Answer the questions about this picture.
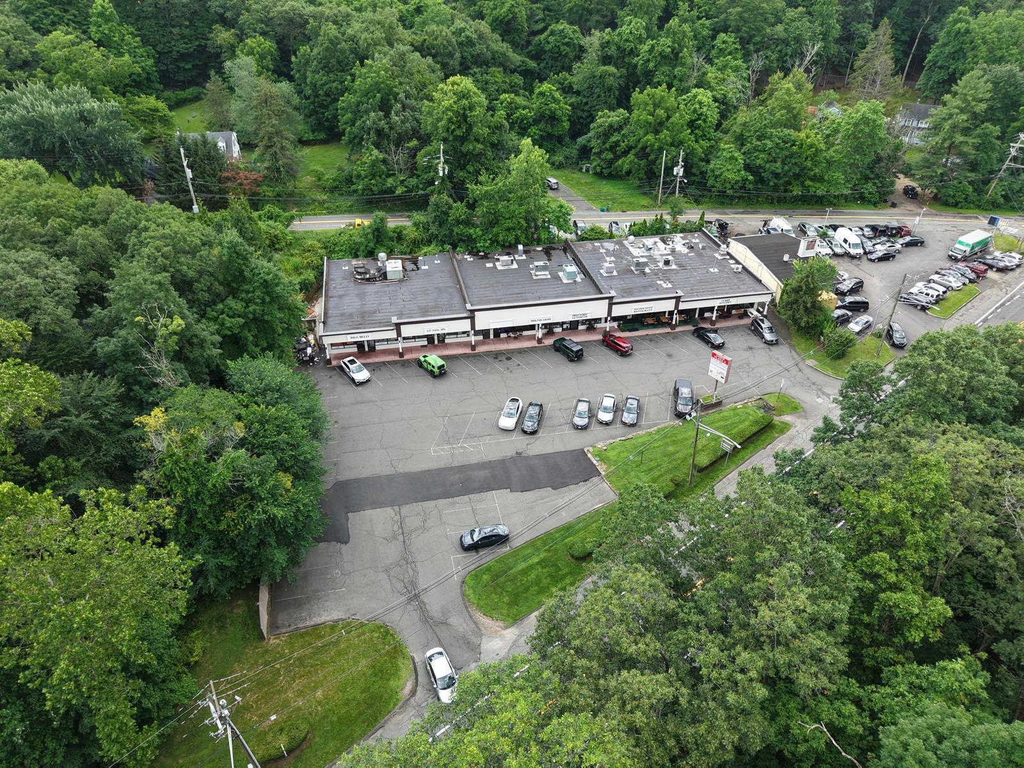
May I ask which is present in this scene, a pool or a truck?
truck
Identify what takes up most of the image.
trees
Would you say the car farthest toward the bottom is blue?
No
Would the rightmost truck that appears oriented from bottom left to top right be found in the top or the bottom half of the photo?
top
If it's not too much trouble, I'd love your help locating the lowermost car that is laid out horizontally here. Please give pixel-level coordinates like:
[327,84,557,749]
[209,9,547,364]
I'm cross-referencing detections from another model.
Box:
[456,522,514,553]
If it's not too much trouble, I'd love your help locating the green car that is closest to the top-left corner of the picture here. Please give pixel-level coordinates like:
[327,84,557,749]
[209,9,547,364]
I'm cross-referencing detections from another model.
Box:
[414,352,450,378]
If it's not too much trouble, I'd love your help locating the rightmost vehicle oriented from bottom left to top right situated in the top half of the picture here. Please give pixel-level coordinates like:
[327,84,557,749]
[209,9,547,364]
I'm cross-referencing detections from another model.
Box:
[954,223,1002,259]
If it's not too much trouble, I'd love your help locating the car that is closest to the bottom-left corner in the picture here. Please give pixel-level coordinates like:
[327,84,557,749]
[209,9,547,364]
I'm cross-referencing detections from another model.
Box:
[423,642,461,708]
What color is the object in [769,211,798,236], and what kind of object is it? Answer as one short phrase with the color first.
white truck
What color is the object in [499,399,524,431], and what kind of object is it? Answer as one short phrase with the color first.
white car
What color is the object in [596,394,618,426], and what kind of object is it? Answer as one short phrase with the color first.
white car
